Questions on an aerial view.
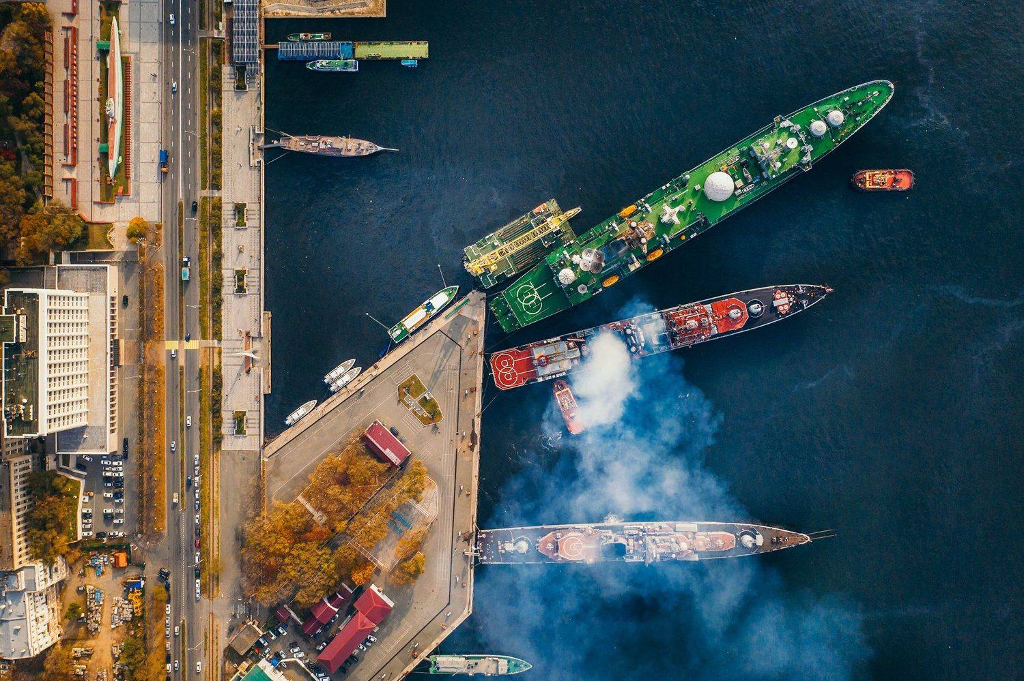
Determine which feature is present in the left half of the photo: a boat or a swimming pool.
boat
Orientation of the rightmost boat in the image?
from left to right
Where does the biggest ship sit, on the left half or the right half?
right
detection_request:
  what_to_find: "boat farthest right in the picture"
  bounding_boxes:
[851,169,916,191]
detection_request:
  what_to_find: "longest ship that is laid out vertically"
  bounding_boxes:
[106,16,126,179]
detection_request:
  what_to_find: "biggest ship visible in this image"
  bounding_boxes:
[480,79,895,353]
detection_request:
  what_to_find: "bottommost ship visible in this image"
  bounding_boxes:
[407,651,532,677]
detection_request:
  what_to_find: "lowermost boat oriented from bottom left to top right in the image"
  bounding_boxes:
[284,401,317,425]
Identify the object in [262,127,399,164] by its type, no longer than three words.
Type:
ship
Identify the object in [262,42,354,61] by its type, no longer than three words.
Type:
pier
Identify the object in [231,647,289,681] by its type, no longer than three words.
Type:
building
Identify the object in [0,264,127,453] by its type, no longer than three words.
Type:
building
